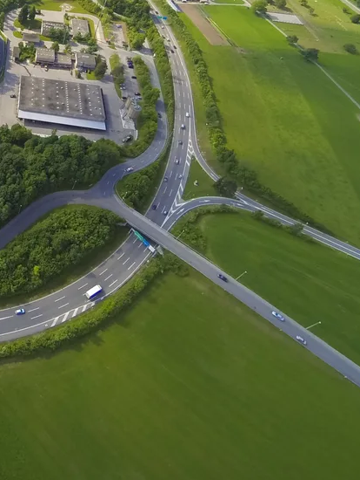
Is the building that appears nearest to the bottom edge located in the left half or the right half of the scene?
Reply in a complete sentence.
You can find the building that appears nearest to the bottom edge on the left side of the picture.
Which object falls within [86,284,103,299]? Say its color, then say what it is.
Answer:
white vehicle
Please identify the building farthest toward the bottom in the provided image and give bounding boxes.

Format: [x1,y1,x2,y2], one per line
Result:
[17,76,105,135]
